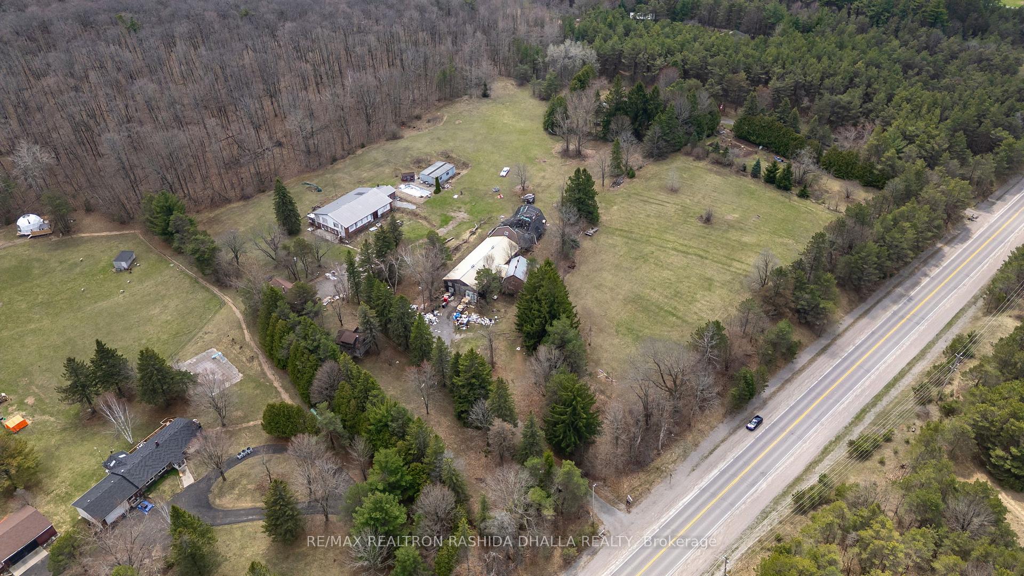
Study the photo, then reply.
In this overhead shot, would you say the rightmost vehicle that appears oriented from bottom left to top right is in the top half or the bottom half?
bottom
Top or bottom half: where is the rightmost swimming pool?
top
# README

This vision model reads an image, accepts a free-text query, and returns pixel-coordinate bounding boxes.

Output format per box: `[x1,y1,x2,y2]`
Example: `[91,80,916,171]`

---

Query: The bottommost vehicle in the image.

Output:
[744,413,766,433]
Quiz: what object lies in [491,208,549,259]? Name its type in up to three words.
barn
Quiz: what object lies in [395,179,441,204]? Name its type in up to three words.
swimming pool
